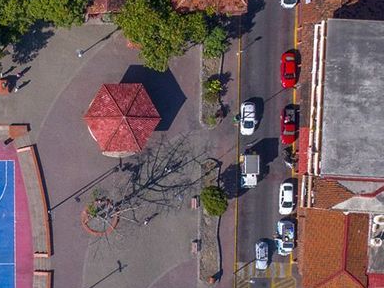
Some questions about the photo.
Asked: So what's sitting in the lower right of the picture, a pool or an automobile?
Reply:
automobile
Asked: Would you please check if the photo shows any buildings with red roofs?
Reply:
Yes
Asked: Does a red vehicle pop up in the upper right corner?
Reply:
Yes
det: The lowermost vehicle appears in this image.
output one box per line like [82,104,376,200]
[253,241,270,270]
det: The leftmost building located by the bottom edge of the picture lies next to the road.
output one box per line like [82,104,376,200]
[298,208,369,288]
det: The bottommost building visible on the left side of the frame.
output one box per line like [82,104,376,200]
[83,84,160,162]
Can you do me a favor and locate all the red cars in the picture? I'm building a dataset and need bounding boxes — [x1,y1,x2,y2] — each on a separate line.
[278,105,299,145]
[278,53,299,89]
